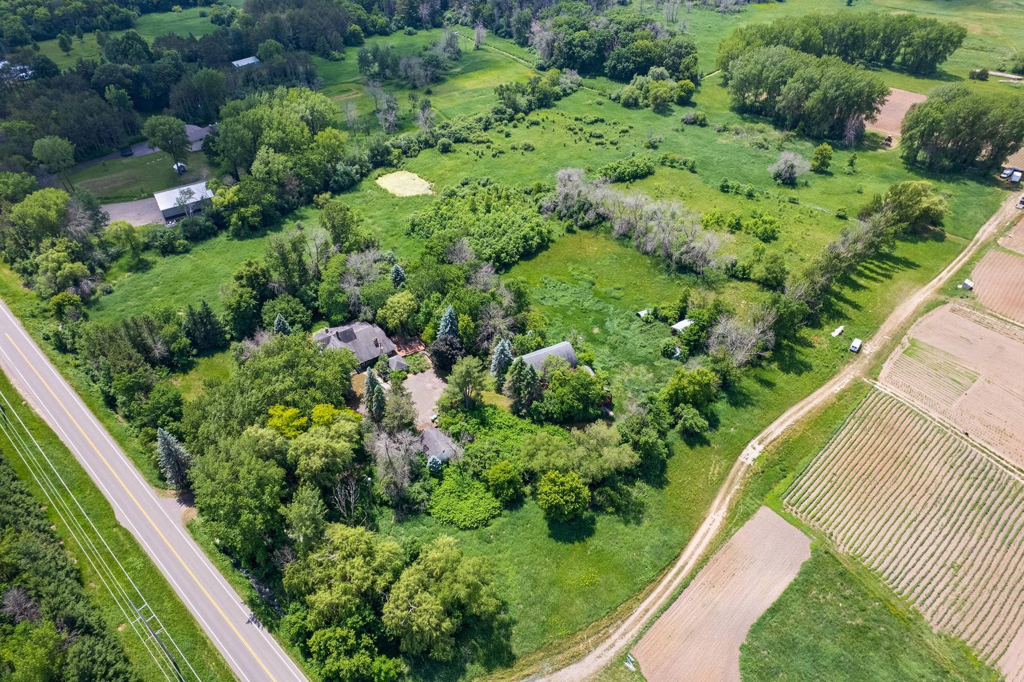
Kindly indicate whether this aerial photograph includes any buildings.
Yes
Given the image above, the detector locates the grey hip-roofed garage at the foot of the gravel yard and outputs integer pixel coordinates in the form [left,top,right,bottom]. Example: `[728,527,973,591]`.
[417,426,462,469]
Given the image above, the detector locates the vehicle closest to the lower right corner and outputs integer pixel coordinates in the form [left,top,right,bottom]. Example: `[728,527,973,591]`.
[847,339,860,355]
